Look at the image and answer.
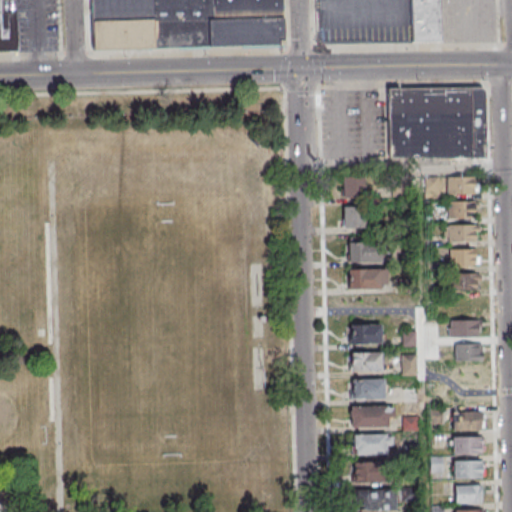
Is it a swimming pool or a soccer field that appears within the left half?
soccer field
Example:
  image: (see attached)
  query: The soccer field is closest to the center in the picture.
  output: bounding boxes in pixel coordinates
[84,195,255,464]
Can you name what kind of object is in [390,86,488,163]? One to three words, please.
building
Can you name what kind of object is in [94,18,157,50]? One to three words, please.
building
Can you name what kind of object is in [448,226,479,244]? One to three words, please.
house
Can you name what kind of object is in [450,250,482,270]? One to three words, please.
house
